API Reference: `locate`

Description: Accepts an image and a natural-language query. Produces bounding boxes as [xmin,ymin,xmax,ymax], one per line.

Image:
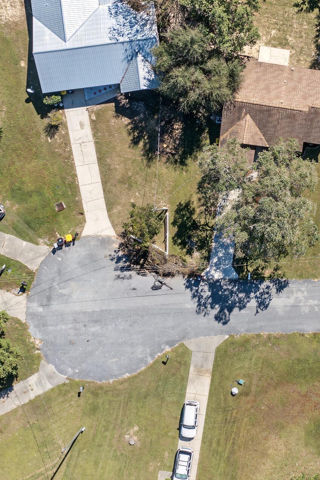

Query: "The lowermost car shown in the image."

[172,448,192,480]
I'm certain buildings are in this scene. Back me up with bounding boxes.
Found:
[218,57,320,149]
[31,0,164,93]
